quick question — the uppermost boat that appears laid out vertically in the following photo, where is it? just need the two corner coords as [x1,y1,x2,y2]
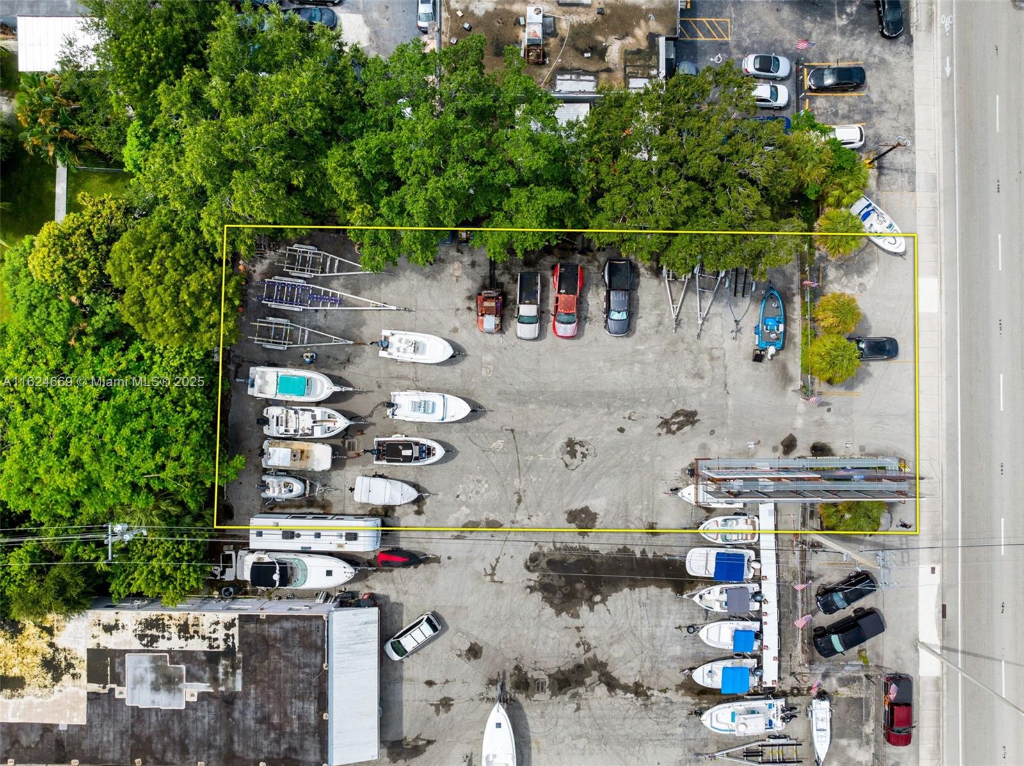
[749,287,784,359]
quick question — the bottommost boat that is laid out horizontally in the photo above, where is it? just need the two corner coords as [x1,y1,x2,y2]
[701,693,796,740]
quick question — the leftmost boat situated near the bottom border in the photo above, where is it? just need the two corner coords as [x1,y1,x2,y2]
[481,702,516,766]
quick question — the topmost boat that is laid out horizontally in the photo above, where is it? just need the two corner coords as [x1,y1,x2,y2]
[369,329,454,363]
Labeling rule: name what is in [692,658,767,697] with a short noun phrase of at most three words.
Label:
boat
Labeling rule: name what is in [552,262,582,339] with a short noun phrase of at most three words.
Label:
truck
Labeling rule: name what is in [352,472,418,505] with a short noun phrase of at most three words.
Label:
boat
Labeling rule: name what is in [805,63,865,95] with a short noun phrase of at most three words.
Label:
car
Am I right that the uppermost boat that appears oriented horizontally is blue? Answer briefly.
No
